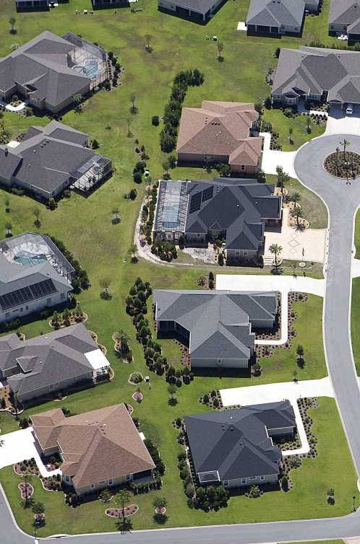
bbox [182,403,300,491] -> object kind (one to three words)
house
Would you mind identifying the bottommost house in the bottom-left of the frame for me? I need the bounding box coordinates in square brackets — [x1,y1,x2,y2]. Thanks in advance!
[30,405,155,493]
